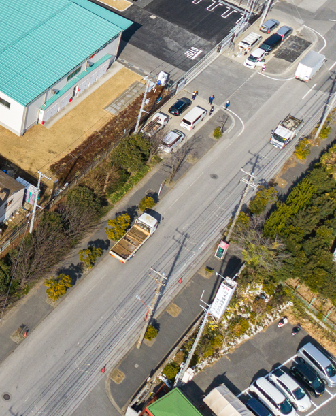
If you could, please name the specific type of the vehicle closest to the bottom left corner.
truck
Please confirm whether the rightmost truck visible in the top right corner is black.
No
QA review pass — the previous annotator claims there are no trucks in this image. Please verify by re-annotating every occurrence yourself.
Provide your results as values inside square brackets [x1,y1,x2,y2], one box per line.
[140,110,171,142]
[103,209,163,267]
[291,48,329,82]
[268,114,305,149]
